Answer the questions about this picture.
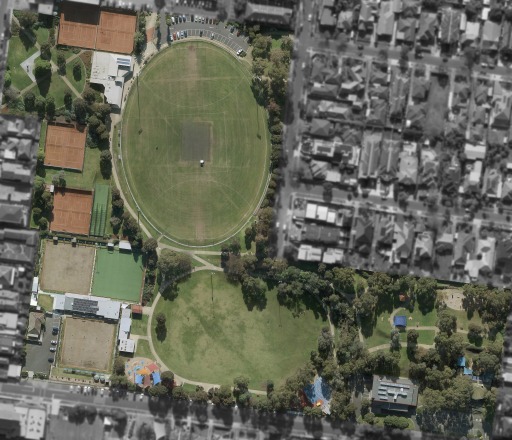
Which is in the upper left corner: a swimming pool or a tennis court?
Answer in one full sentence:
Visible in the upper left corner is a tennis court.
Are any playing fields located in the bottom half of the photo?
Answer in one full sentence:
Yes, a playing field appears in the bottom half of the photo.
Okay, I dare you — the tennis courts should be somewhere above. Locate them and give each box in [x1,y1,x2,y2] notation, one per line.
[114,14,136,54]
[77,4,100,49]
[50,188,74,232]
[70,190,94,234]
[64,127,87,169]
[96,12,119,52]
[58,2,82,46]
[44,125,68,167]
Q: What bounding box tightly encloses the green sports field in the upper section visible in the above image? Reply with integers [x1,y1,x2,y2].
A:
[120,40,272,246]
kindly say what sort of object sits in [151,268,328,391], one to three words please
sports field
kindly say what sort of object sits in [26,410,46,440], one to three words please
building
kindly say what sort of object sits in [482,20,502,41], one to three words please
house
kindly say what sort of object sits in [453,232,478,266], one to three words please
house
